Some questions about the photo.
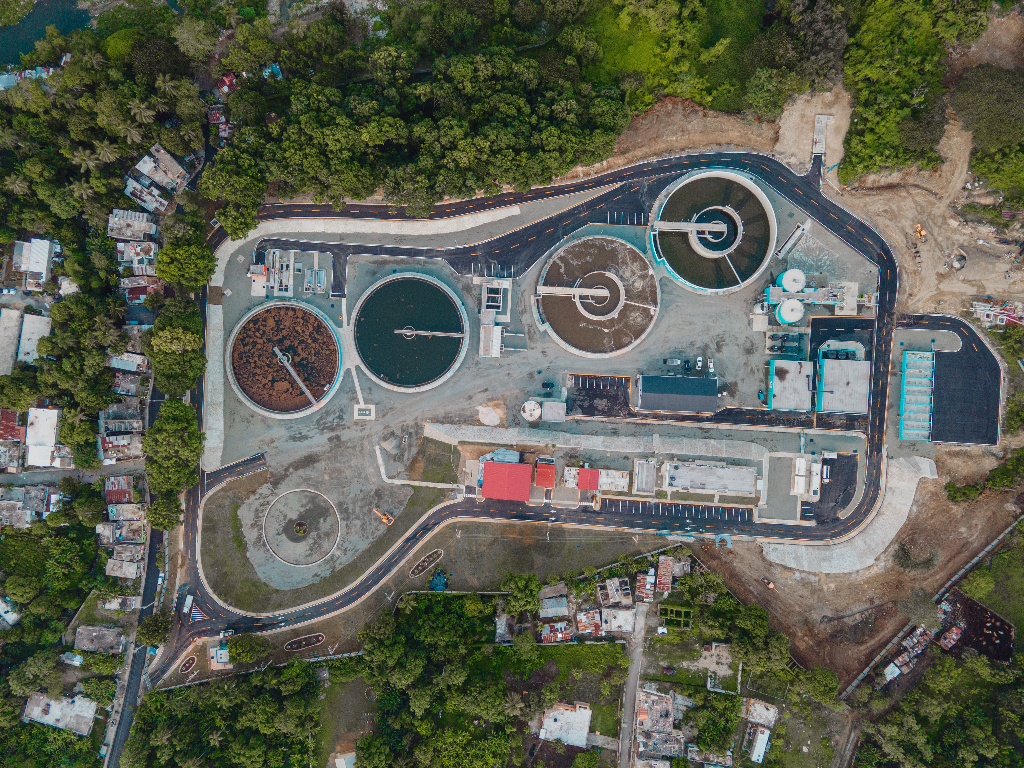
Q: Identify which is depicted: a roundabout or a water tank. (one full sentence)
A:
It is a water tank that can be seen here.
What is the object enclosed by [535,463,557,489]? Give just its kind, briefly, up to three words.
shed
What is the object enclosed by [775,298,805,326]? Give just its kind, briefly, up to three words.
storage tank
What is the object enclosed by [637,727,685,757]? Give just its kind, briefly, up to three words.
house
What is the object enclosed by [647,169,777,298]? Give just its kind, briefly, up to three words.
water tank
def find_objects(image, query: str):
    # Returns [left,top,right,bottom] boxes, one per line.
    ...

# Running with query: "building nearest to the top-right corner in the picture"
[758,284,846,306]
